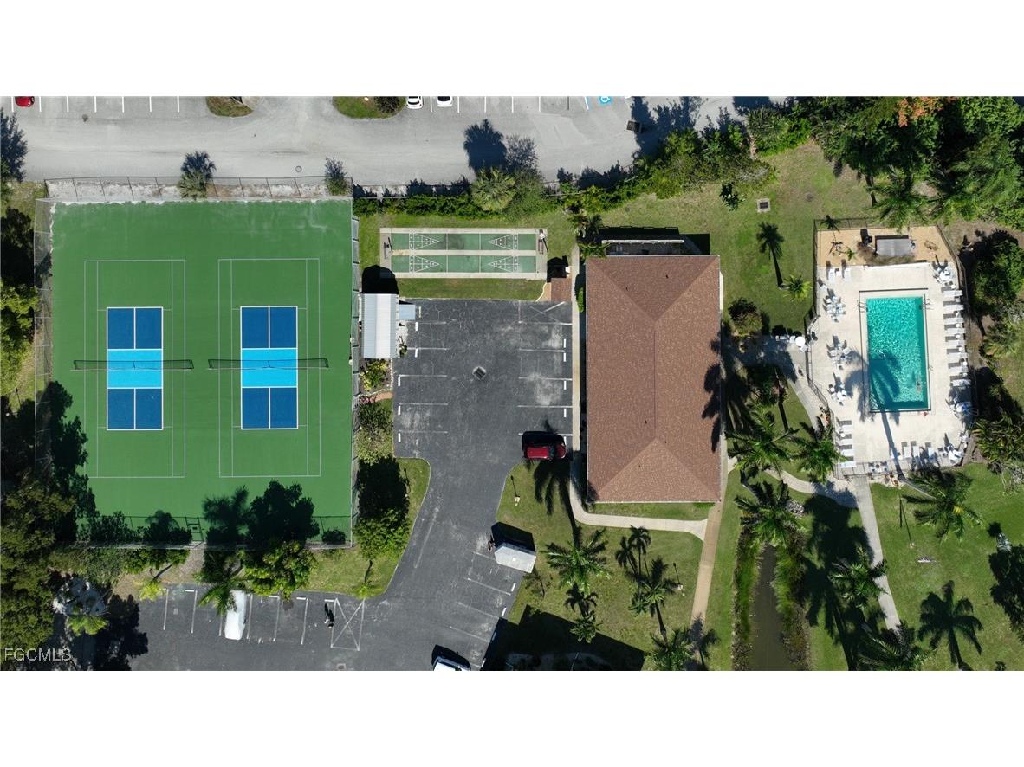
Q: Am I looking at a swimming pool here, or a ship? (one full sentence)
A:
The one in the frame is a swimming pool.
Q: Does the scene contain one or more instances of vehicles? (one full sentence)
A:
Yes, the photo shows a vehicle.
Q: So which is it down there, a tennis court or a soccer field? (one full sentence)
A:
The image shows a tennis court.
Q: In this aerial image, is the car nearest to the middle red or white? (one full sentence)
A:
In this view, the car nearest to the middle is red.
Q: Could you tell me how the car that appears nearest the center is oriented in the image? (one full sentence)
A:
The car that appears nearest the center is laid out from left to right.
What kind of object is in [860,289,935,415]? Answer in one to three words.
swimming pool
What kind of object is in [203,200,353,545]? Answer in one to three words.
tennis court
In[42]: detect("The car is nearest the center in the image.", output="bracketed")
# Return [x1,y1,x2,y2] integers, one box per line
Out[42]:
[525,440,566,460]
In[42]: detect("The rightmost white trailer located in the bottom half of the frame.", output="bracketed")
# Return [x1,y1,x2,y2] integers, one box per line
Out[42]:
[489,541,537,573]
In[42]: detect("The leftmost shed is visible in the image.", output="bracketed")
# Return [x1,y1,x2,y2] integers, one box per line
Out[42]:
[364,292,401,360]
